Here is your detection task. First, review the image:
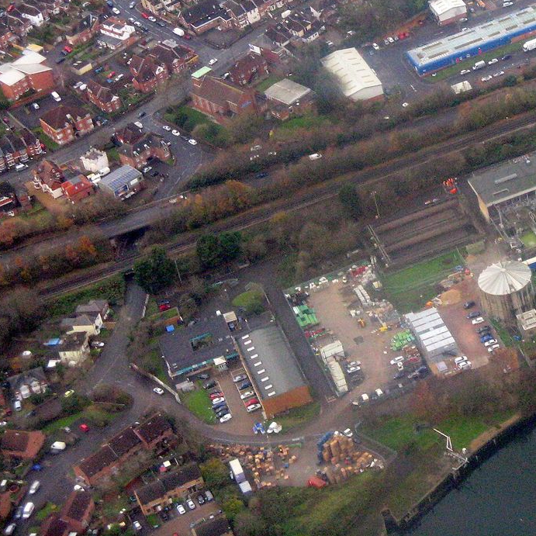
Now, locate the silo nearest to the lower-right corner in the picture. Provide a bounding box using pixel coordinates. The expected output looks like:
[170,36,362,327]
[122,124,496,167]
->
[480,260,536,316]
